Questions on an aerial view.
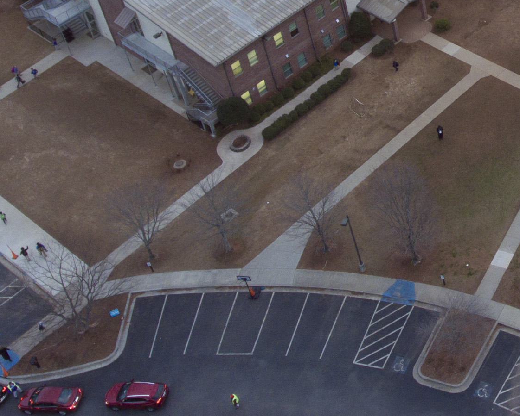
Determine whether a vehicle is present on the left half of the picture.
Yes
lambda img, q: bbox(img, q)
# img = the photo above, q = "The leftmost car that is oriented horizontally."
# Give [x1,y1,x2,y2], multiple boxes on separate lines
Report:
[15,383,86,416]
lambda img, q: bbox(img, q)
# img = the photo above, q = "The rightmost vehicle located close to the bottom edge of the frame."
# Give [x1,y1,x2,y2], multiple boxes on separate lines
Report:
[102,379,172,413]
